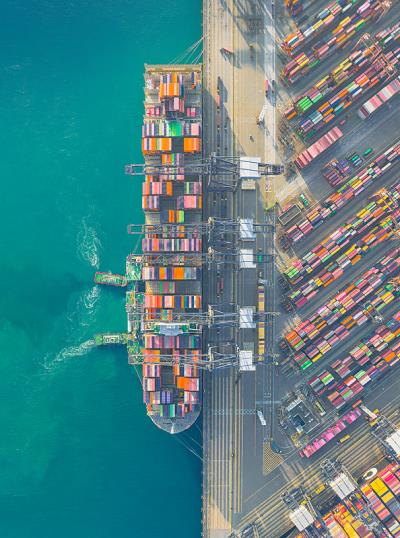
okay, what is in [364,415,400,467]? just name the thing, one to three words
container crane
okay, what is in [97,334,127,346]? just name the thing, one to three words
boat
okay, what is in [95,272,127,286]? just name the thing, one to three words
boat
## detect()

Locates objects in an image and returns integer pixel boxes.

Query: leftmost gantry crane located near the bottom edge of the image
[279,481,330,538]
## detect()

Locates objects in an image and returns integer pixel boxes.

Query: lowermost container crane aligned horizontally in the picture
[126,337,281,372]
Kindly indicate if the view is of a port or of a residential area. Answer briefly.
port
